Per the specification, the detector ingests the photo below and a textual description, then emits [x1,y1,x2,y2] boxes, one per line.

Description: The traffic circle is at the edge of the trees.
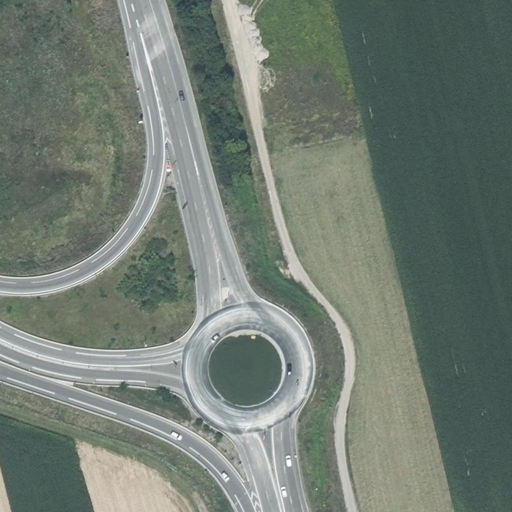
[182,300,314,434]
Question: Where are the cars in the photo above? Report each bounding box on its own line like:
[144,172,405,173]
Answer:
[211,332,220,342]
[286,456,292,468]
[220,472,230,482]
[178,90,184,101]
[170,431,182,440]
[281,486,287,498]
[286,364,292,375]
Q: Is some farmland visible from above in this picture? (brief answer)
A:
Yes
